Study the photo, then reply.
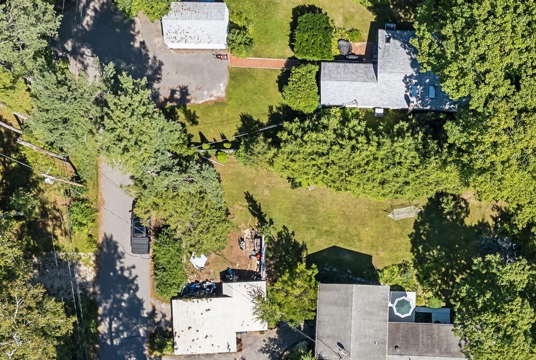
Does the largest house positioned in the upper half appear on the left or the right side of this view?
right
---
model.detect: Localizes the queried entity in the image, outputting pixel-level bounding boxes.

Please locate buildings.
[162,1,229,49]
[315,284,481,360]
[173,282,269,356]
[319,22,467,118]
